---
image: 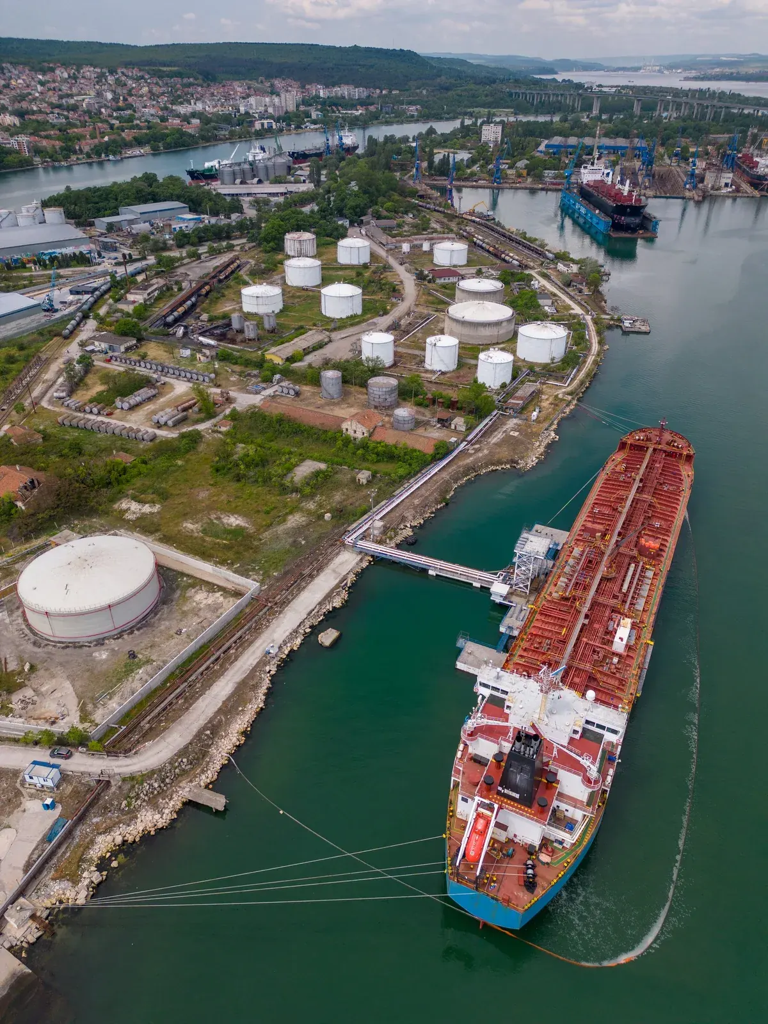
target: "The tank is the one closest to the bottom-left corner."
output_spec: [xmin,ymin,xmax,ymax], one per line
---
[16,529,170,645]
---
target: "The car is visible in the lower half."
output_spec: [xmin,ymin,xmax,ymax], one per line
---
[47,747,73,759]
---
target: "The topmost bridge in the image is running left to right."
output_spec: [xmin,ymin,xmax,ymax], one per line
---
[493,90,768,134]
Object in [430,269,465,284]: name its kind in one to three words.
house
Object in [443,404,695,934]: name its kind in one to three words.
ship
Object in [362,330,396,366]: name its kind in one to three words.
storage tank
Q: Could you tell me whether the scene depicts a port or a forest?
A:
port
